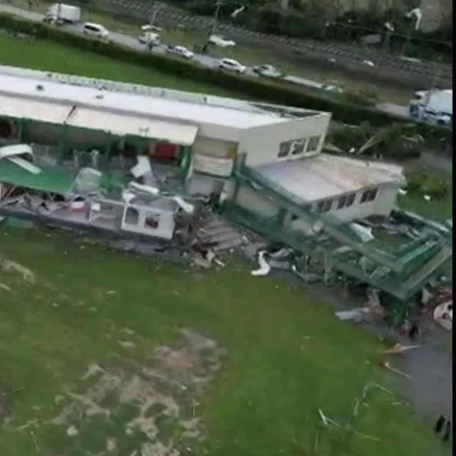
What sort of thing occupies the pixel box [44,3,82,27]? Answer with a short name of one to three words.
truck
